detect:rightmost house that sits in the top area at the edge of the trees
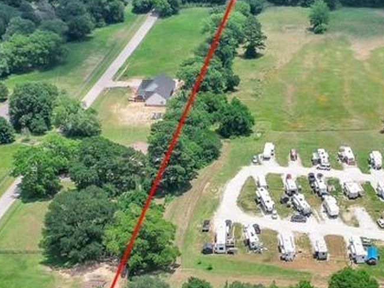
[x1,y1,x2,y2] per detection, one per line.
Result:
[133,78,180,107]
